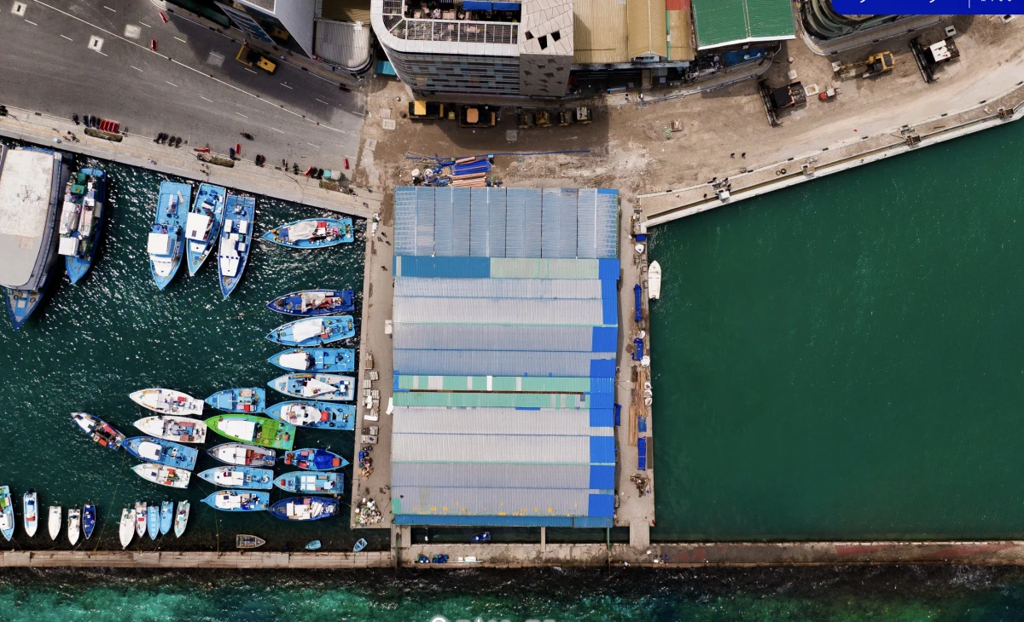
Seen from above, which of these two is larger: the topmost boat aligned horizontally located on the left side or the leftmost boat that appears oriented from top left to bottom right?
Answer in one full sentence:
Compared with the leftmost boat that appears oriented from top left to bottom right, the topmost boat aligned horizontally located on the left side is the bigger one.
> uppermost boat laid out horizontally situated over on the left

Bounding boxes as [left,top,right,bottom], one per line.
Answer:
[260,216,356,250]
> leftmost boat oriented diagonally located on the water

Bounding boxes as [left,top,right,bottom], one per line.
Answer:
[70,413,127,451]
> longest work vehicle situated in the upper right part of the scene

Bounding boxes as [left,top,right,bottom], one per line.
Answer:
[839,49,902,77]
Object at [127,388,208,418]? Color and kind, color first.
white boat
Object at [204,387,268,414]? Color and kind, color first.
blue boat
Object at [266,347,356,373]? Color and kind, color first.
blue boat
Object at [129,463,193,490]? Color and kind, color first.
white boat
